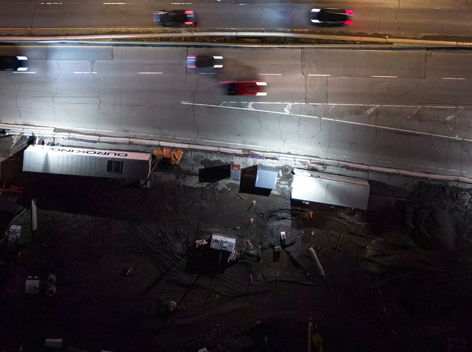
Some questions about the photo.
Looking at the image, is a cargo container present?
Yes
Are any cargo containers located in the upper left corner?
No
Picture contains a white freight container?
Yes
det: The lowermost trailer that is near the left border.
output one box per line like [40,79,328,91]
[24,143,150,180]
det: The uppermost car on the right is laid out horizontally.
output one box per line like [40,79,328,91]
[313,8,352,26]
